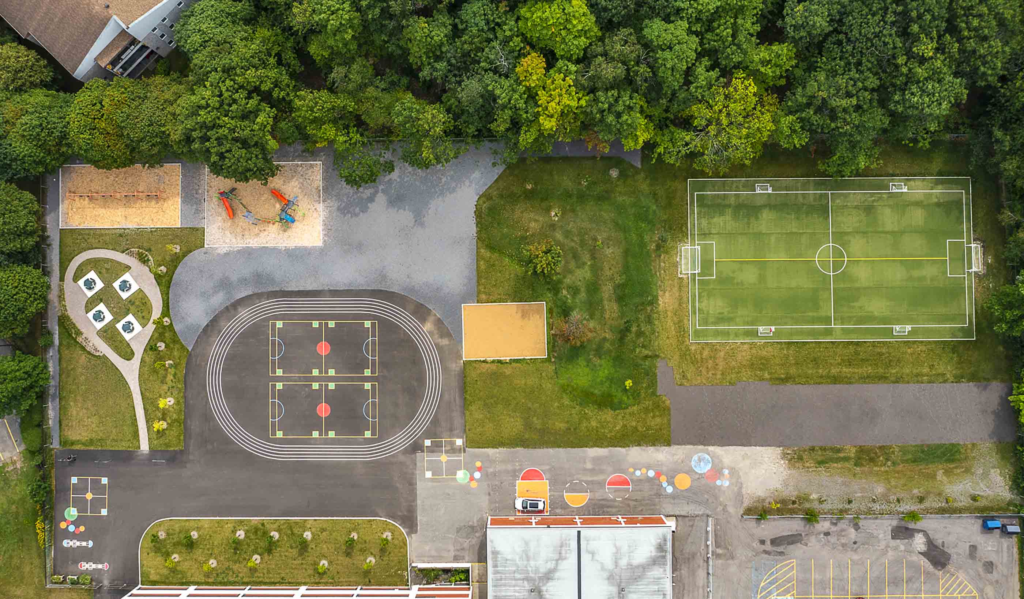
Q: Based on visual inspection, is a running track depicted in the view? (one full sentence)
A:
Yes, looking at the shot, I can spot a running track.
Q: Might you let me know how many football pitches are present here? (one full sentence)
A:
The count comes to 1 football pitch.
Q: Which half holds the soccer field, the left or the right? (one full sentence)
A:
It is on the right.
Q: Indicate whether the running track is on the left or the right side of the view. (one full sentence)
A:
The running track is on the left side of the image.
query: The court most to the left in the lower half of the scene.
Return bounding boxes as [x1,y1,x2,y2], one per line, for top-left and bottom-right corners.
[64,477,108,521]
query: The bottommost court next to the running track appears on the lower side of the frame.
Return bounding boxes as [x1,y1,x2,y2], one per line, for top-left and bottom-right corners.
[424,439,470,483]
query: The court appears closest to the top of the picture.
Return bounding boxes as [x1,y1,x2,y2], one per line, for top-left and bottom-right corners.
[269,321,378,376]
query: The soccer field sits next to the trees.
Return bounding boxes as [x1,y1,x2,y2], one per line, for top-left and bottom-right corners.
[688,177,976,342]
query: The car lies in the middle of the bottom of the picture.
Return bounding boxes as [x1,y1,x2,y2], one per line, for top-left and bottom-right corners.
[515,496,546,512]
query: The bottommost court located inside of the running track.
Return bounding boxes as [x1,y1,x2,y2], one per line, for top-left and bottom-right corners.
[269,383,378,438]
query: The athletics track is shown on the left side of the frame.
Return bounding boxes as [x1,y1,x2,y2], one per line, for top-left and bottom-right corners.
[206,297,442,461]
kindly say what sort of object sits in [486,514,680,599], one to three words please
building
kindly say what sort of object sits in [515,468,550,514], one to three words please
basketball court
